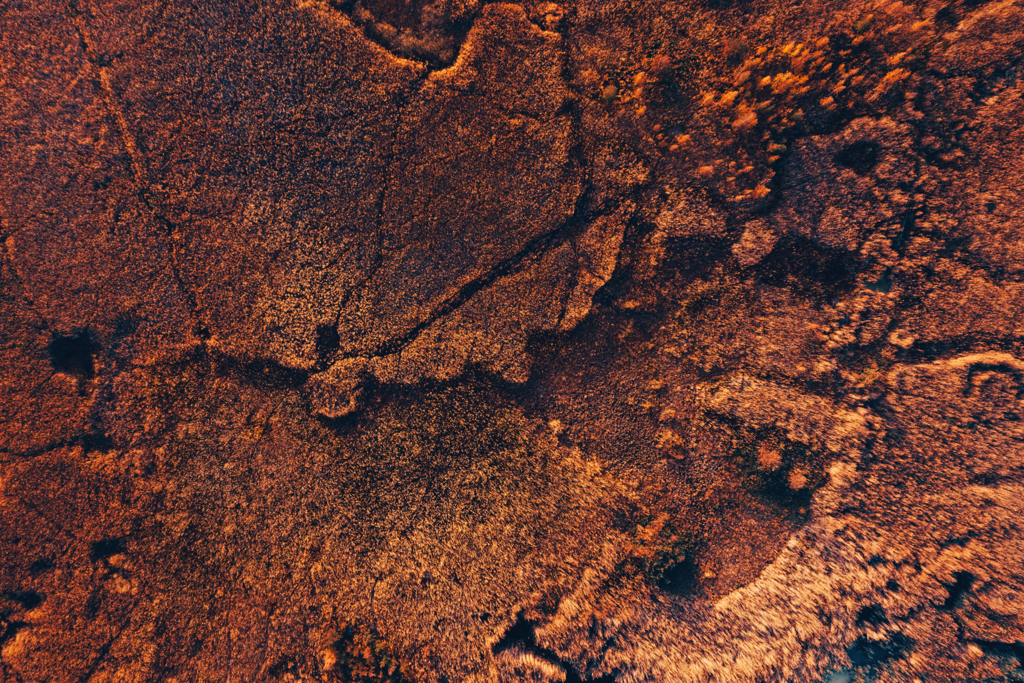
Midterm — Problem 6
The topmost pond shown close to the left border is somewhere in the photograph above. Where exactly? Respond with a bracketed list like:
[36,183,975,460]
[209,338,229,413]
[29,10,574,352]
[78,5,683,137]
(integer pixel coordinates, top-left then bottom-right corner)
[46,327,100,375]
